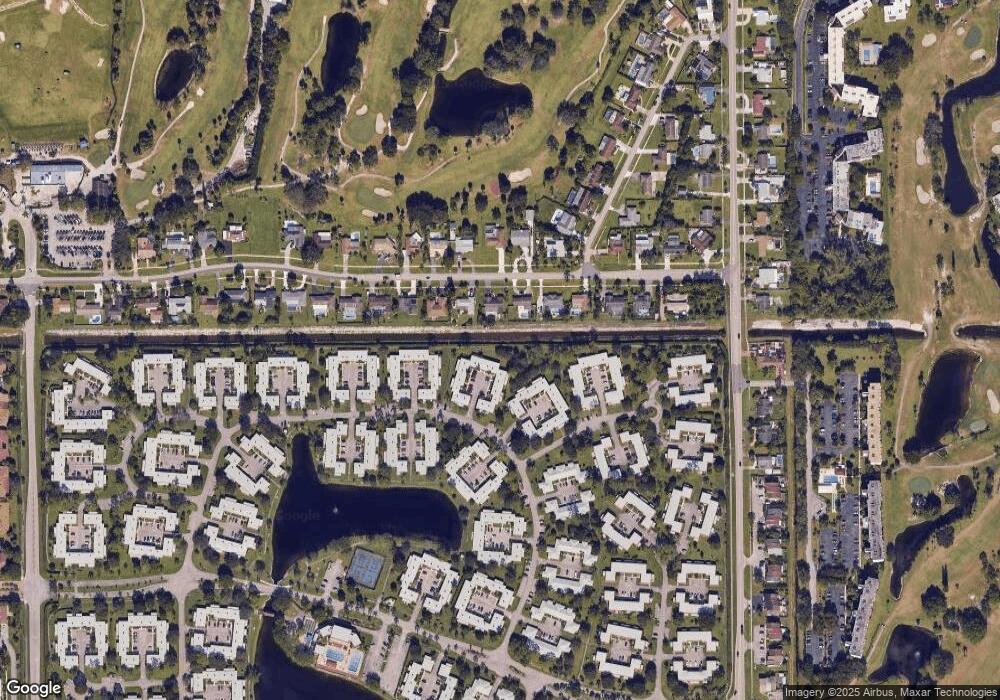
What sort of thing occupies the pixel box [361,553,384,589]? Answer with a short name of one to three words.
tennis court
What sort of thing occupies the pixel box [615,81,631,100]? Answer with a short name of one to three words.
swimming pool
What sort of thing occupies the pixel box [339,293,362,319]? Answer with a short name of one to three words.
house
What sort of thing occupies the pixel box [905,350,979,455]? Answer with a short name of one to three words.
pond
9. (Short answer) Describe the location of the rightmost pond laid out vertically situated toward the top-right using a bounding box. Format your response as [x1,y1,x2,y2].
[943,66,1000,215]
